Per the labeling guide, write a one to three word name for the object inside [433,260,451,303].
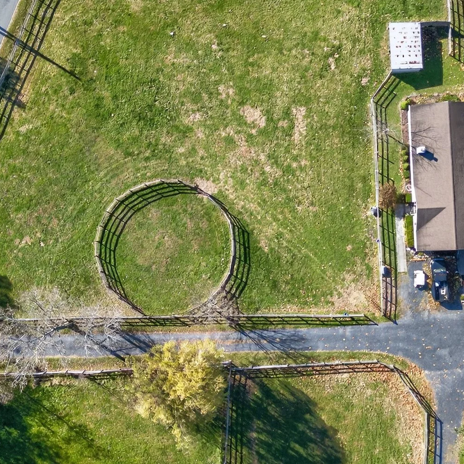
vehicle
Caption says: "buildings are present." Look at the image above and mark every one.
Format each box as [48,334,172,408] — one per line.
[398,101,464,251]
[388,22,423,72]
